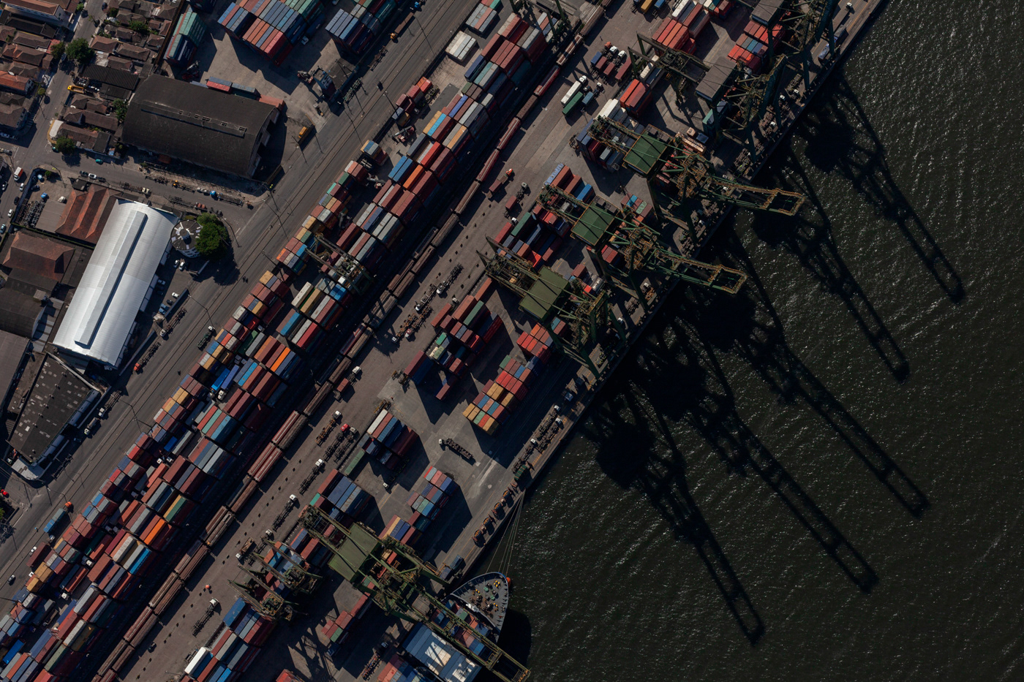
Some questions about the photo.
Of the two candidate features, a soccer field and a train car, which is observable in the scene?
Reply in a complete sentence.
The one in the frame is a train car.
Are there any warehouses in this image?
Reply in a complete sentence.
Yes, a warehouse appears in the view.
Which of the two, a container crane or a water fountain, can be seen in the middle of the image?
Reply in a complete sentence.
There is a container crane in the middle of the image.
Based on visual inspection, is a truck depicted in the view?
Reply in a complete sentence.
Yes, looking at the shot, I can spot a truck.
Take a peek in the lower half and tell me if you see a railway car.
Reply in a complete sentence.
Yes, in the lower half there is a railway car.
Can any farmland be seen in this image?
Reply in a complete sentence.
No, there is no farmland in the image.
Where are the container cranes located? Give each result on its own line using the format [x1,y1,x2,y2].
[505,0,569,29]
[484,251,630,384]
[537,183,749,317]
[227,564,304,626]
[656,38,786,169]
[250,537,324,598]
[474,234,540,292]
[589,114,804,249]
[304,235,374,296]
[626,31,687,95]
[302,510,530,682]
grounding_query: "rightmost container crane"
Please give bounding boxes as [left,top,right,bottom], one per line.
[748,0,840,92]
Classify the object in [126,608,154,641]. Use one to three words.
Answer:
rail car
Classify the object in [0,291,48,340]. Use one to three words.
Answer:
building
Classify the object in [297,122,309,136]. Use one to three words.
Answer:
vehicle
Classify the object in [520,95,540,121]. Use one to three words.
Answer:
rail car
